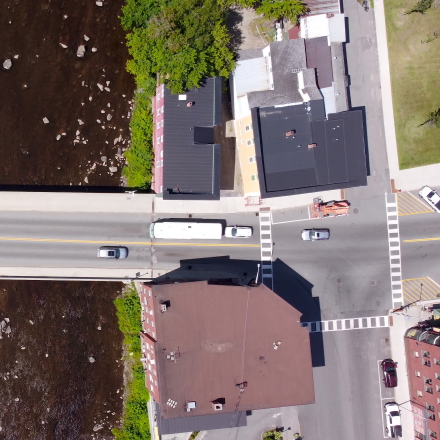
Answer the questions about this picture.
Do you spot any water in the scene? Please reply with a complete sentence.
Yes, the picture does contain water.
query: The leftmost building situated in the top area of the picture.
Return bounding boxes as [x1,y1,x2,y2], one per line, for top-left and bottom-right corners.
[152,65,221,202]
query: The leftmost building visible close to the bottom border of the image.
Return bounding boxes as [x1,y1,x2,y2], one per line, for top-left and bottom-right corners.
[139,278,315,434]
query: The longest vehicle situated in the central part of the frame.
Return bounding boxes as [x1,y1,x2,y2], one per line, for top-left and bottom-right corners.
[150,220,225,241]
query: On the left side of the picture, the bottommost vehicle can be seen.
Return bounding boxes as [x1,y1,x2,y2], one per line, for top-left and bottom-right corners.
[98,245,127,260]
